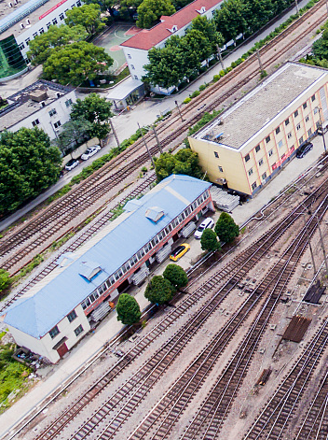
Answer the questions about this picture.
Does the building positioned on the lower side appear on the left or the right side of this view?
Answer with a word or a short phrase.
left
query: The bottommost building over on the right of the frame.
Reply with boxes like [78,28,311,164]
[190,57,328,194]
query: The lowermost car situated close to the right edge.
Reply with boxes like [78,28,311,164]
[294,141,313,157]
